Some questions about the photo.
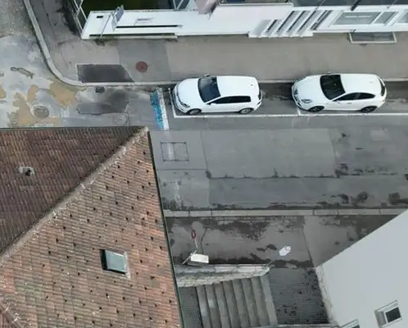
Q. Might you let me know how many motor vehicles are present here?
2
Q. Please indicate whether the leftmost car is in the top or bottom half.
top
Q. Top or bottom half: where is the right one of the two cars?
top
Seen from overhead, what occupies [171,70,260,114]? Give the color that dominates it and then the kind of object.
white car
